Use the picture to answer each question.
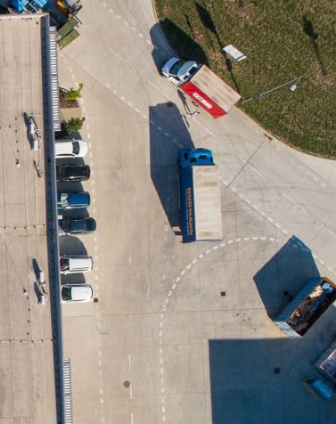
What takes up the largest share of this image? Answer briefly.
paved ground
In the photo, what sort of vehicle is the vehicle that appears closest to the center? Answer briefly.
truck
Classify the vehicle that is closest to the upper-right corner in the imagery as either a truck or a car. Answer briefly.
truck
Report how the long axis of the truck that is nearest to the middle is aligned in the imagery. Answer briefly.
vertically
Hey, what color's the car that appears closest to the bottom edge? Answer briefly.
white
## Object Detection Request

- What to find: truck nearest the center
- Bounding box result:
[173,144,222,245]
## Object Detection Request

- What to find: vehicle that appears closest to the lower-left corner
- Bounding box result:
[60,282,99,303]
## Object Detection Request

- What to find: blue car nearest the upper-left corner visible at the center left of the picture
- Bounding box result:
[55,189,93,209]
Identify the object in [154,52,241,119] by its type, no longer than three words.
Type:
truck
